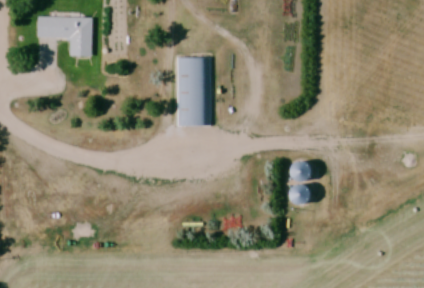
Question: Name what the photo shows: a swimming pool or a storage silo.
storage silo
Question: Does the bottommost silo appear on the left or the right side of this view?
right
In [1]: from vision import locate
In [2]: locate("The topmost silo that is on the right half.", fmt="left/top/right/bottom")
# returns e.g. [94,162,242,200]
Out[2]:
[289,159,313,182]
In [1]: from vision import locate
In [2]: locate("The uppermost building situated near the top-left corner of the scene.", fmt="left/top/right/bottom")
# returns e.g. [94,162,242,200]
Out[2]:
[36,11,95,64]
